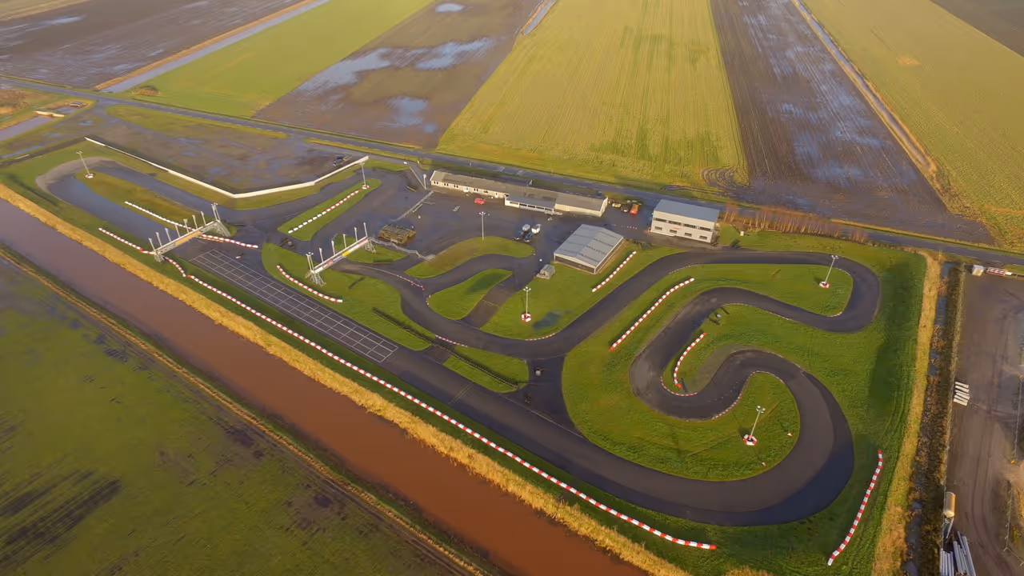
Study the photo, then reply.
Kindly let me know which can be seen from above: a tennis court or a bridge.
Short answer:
bridge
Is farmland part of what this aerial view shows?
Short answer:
Yes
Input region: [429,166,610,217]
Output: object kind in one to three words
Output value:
house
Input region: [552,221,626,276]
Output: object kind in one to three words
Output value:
building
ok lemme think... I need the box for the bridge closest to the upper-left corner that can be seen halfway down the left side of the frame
[151,207,232,265]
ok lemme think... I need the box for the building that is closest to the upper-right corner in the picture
[652,193,721,243]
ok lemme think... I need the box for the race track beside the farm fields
[49,163,880,526]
